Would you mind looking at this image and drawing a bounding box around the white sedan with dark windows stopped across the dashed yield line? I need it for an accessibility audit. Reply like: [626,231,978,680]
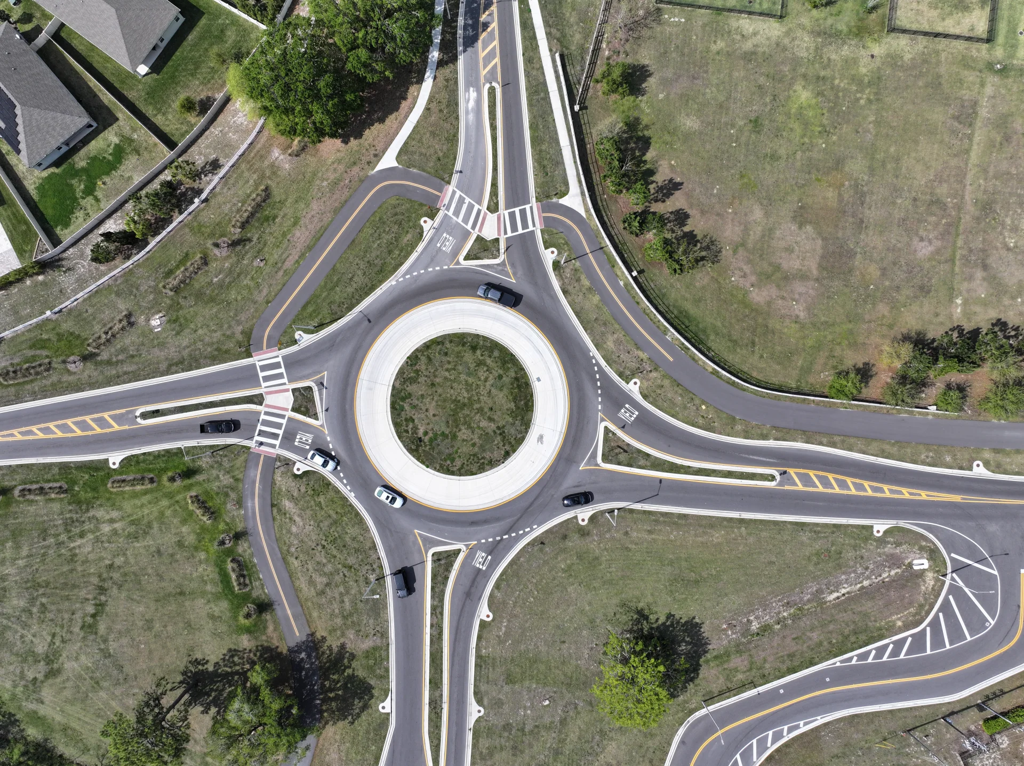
[306,449,338,472]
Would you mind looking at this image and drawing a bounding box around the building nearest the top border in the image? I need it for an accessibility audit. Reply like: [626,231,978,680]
[34,0,185,81]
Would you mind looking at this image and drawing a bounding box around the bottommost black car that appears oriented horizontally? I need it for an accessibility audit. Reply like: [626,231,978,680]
[562,492,593,508]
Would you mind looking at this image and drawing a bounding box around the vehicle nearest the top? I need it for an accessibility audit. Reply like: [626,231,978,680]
[478,285,515,308]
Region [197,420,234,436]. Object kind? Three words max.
vehicle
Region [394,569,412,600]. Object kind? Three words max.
vehicle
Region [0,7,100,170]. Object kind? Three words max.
house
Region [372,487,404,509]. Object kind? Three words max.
car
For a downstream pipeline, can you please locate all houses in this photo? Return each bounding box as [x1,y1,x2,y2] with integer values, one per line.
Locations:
[34,0,185,81]
[0,7,100,170]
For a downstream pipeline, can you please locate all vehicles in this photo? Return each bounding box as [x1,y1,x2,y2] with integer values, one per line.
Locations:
[372,487,404,509]
[394,569,412,600]
[306,449,338,472]
[478,285,515,308]
[562,492,593,508]
[197,420,234,436]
